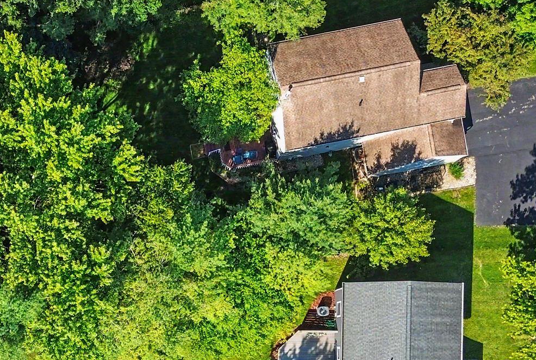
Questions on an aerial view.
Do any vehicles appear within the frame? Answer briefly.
No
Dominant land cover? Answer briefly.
trees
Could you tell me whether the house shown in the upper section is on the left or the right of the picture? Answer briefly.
right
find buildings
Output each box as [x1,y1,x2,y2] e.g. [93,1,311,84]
[262,17,469,181]
[334,281,464,360]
